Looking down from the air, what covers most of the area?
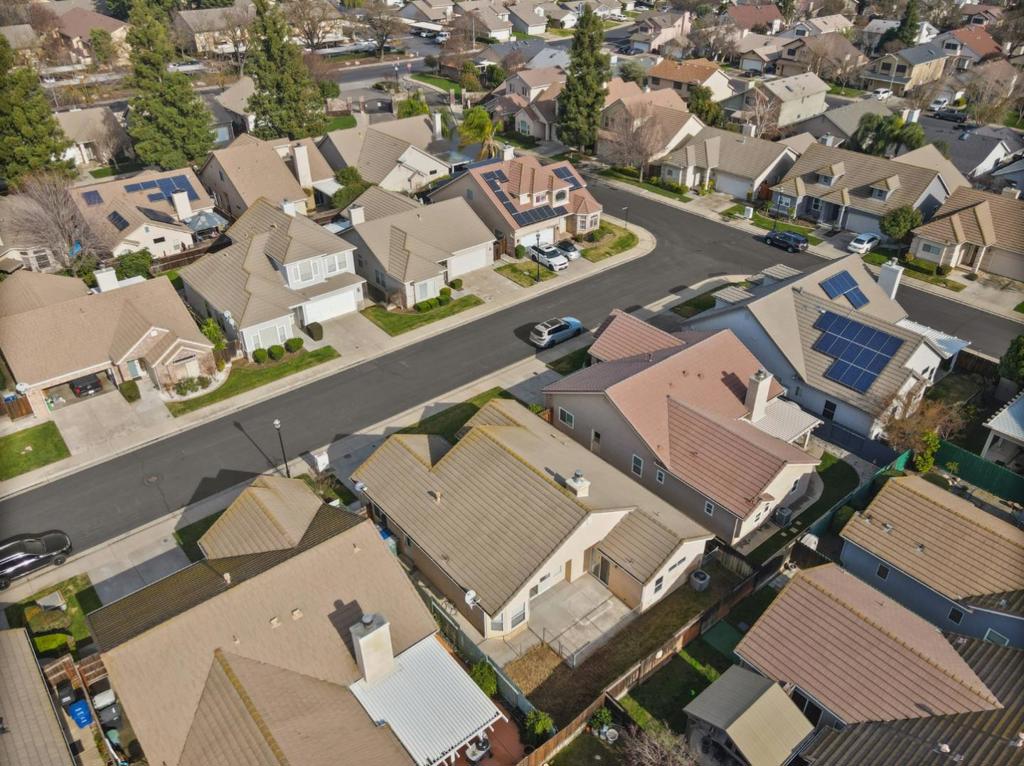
buildings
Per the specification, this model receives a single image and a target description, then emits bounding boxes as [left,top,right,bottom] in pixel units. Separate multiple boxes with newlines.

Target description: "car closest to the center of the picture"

[530,317,584,348]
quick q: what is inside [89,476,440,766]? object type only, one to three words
house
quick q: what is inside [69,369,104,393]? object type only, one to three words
car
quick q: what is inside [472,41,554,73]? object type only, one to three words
house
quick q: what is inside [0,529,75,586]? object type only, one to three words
car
